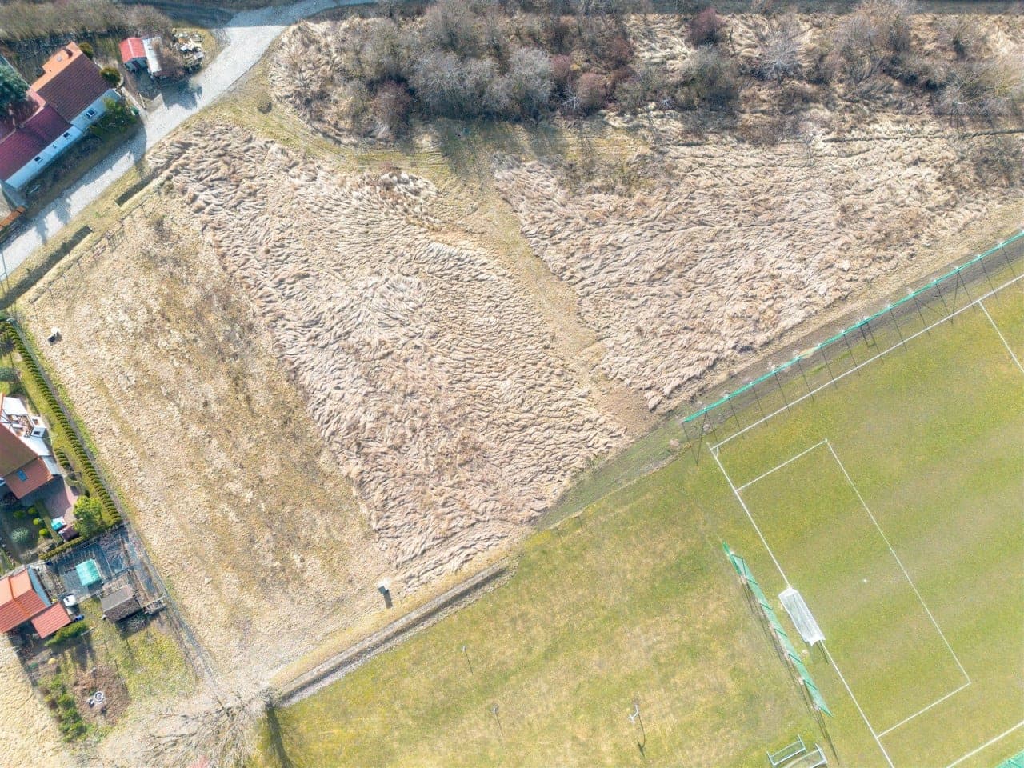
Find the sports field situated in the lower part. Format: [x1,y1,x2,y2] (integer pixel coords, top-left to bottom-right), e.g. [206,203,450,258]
[270,259,1024,768]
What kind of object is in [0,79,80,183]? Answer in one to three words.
house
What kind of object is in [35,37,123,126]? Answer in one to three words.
house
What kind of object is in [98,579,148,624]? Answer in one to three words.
shed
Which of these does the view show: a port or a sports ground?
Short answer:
sports ground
